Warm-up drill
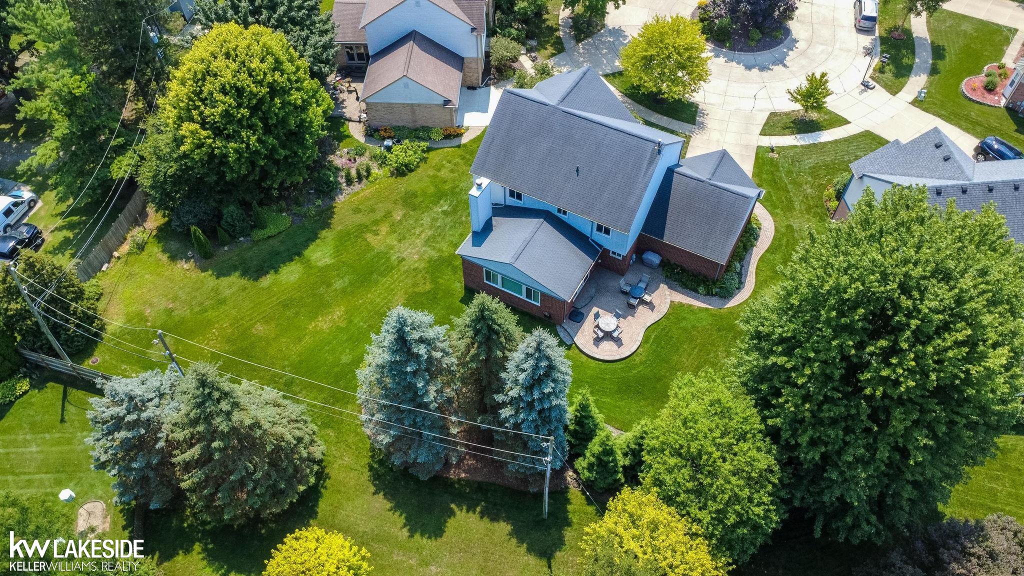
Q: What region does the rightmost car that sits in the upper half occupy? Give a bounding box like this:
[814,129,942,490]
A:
[971,132,1024,160]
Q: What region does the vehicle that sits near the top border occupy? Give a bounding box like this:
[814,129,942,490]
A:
[843,0,881,28]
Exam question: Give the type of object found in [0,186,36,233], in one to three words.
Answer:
van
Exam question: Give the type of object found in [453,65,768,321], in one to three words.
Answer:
house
